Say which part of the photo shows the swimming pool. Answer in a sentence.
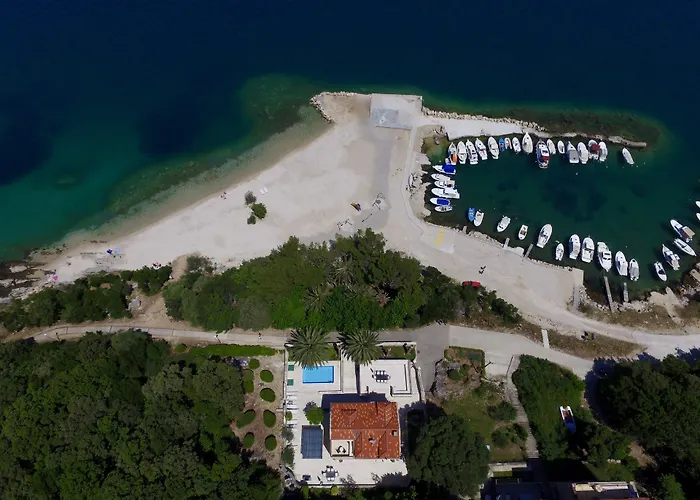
You can find the swimming pool in the bottom area of the picture.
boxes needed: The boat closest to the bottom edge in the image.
[556,404,575,434]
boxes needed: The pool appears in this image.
[301,365,336,385]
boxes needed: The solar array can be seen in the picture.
[300,424,323,458]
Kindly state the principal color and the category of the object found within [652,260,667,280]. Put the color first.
white boat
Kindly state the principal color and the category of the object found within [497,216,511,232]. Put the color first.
white boat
